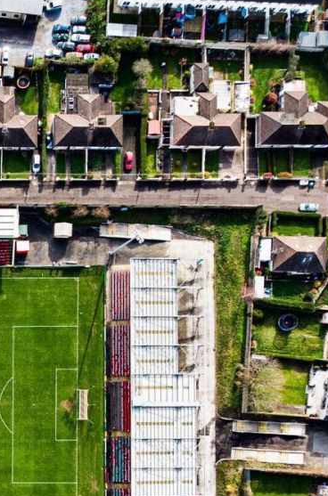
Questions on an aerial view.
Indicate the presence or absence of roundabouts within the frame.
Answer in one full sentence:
No, the picture doesn't show any roundabout.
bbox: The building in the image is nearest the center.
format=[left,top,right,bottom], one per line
[96,222,173,242]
